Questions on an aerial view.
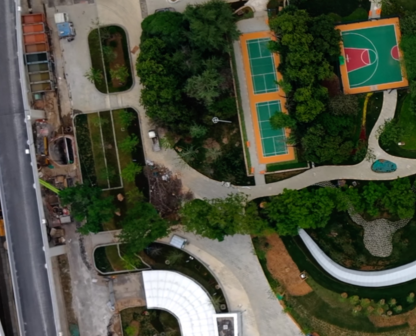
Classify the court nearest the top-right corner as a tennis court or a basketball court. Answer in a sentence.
From above, the court nearest the top-right corner can be identified as a basketball court.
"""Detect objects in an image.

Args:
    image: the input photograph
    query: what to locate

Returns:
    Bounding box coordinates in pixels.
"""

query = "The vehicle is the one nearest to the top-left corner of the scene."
[51,12,70,40]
